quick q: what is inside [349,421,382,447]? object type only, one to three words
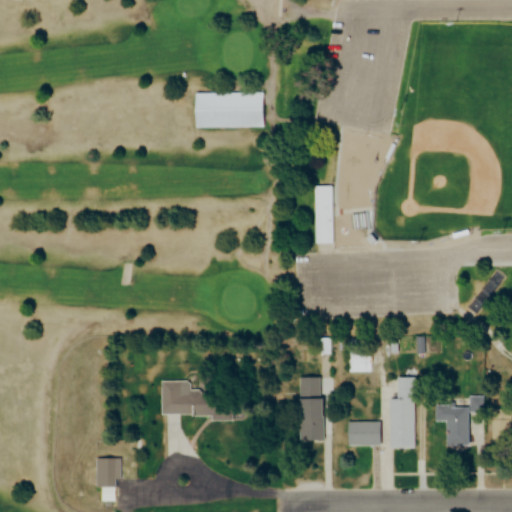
house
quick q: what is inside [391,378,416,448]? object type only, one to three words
house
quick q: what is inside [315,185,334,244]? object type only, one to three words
building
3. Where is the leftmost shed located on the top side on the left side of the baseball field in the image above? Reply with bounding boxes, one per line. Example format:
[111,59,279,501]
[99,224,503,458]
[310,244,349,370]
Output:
[196,92,264,128]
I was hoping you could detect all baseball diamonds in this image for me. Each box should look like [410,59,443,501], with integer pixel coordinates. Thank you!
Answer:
[376,22,512,240]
